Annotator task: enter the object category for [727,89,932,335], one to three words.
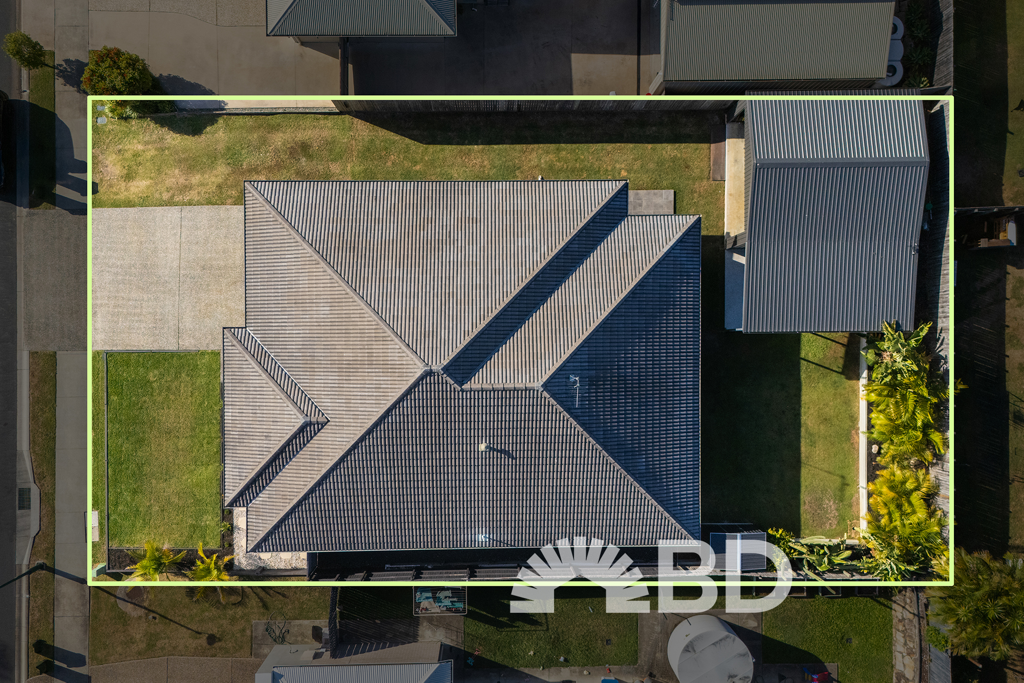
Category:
shed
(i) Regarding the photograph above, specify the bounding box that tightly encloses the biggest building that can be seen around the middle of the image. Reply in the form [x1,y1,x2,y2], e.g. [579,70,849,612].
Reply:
[220,175,704,555]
